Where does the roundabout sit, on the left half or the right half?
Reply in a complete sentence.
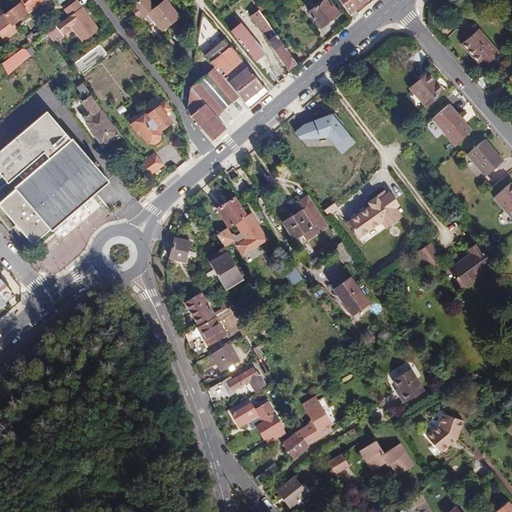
It is on the left.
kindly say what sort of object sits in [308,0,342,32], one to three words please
house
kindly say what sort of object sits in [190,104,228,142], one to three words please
building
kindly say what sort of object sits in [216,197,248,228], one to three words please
house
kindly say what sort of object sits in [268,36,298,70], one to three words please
shed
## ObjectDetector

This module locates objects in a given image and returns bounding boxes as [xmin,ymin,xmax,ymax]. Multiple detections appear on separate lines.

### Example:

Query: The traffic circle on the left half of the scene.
[91,226,148,282]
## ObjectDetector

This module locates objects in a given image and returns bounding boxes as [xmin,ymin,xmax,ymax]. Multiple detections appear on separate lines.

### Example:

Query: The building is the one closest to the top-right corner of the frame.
[460,28,498,67]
